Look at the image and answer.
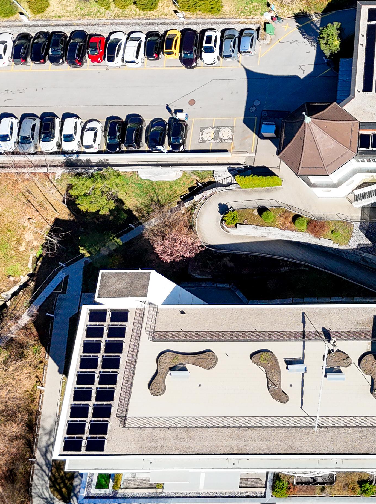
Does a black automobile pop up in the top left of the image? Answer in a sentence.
Yes, there is a black automobile in the top left of the image.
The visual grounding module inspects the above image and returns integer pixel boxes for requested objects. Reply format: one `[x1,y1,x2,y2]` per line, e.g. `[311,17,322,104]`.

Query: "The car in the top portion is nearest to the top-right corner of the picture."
[239,28,257,57]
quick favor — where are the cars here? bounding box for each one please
[200,30,221,65]
[166,116,190,152]
[16,118,40,152]
[179,30,200,67]
[239,28,257,57]
[0,116,19,150]
[0,33,13,67]
[29,33,50,64]
[162,30,181,59]
[85,34,106,62]
[66,32,87,67]
[143,34,163,60]
[11,32,32,66]
[46,30,69,65]
[105,33,126,67]
[37,114,61,151]
[102,120,124,150]
[123,114,145,150]
[124,33,144,67]
[145,120,166,152]
[58,113,83,151]
[81,121,103,152]
[220,29,239,61]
